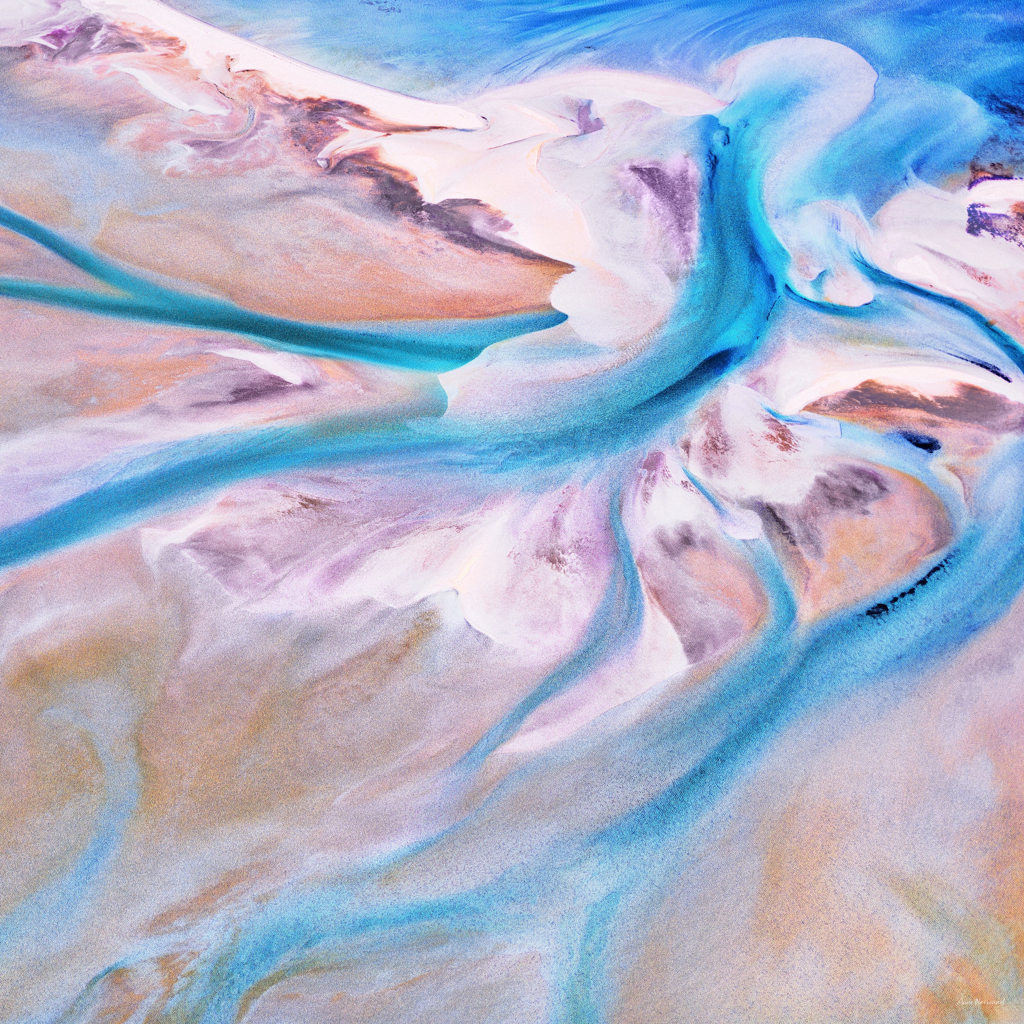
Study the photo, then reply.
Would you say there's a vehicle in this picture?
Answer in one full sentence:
No, there appears to be no vehicle in this shot.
